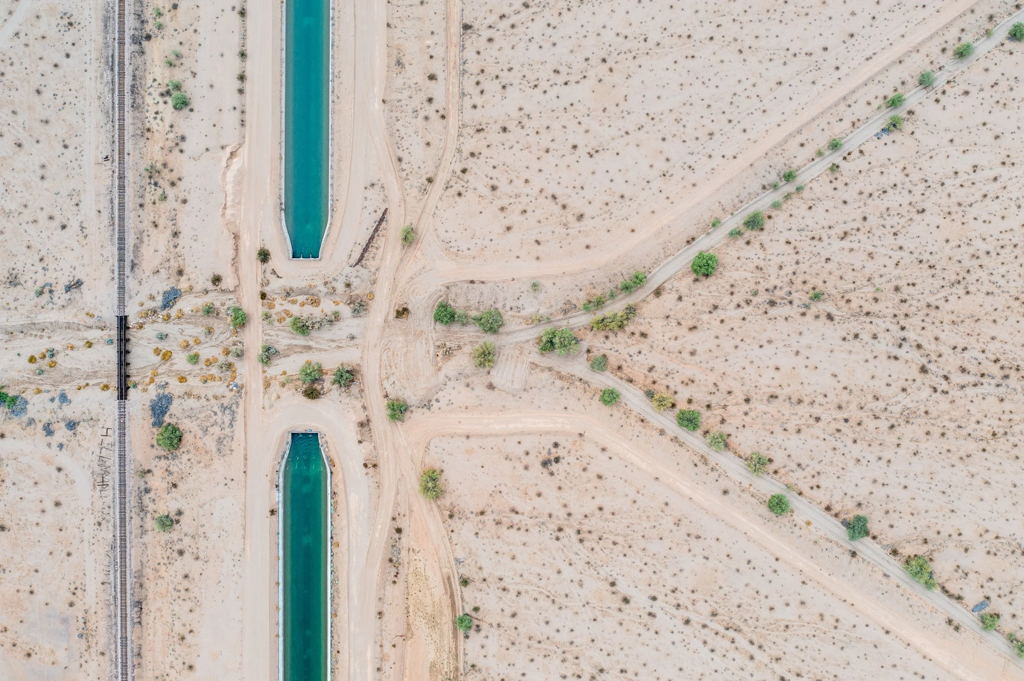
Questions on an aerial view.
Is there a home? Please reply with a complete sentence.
No, there isn't any home down there.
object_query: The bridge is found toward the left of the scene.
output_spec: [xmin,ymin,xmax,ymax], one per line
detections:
[113,315,130,401]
